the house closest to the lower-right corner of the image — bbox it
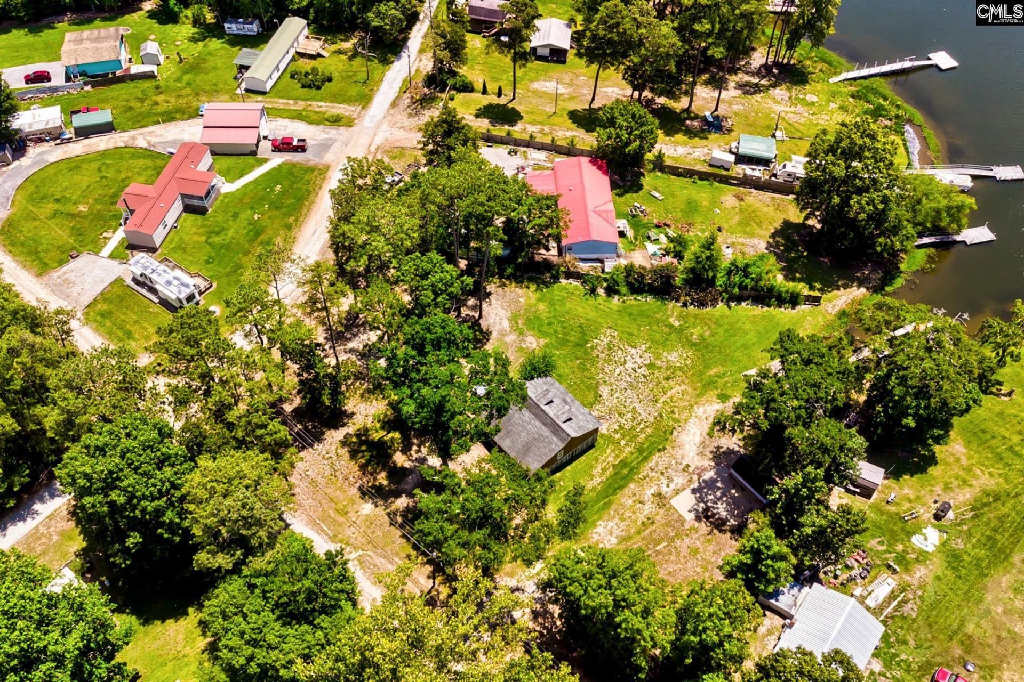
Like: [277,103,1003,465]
[770,582,885,674]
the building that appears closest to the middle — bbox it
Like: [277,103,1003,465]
[490,375,603,476]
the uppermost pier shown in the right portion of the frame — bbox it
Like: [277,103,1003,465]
[827,49,960,83]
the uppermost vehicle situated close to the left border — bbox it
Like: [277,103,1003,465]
[21,68,51,84]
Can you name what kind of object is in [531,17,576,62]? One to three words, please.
house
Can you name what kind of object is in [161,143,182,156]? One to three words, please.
vehicle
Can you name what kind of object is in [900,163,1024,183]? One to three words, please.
pier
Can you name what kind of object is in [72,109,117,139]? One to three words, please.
shed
